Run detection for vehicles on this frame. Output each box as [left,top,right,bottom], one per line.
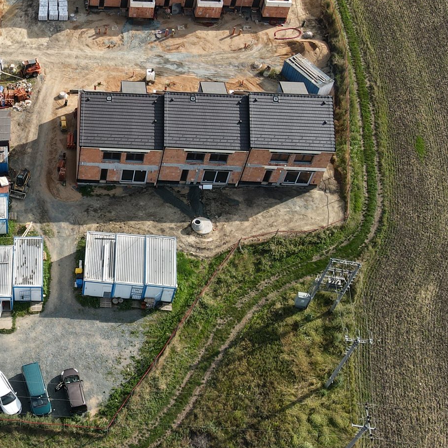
[15,57,42,78]
[0,369,21,421]
[53,367,89,417]
[9,167,31,198]
[20,358,52,421]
